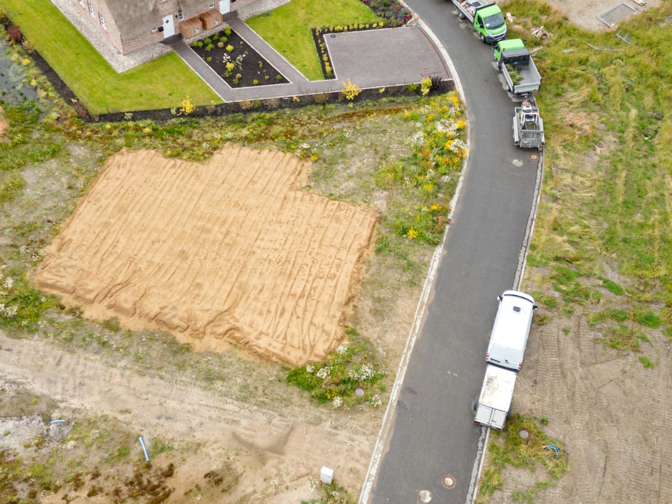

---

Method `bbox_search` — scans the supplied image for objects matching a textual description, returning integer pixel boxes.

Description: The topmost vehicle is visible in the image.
[456,0,509,44]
